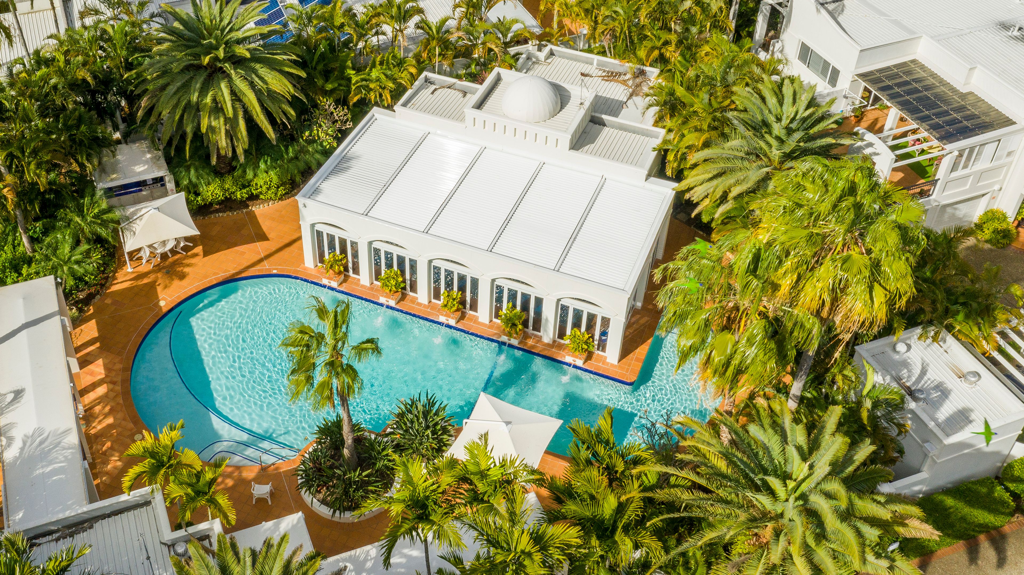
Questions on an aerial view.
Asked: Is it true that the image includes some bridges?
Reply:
No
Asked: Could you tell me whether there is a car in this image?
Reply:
No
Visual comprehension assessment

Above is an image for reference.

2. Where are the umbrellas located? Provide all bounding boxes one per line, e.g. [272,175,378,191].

[111,192,200,273]
[445,392,563,491]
